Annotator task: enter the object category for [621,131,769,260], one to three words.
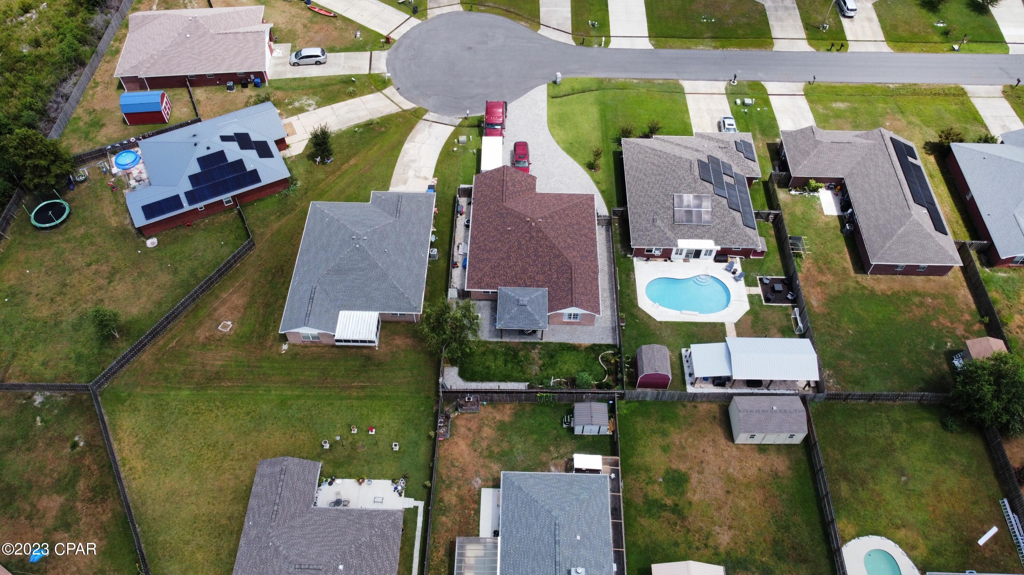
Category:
house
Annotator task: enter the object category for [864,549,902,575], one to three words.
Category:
swimming pool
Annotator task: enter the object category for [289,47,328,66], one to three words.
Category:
car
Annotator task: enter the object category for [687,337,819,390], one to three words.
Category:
building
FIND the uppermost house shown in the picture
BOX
[113,5,274,92]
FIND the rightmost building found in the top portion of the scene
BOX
[945,128,1024,273]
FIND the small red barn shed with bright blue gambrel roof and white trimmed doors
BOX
[119,94,171,125]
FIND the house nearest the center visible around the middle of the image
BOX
[464,164,602,325]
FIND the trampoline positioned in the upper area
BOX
[22,192,73,234]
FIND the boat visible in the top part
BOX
[307,2,337,16]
